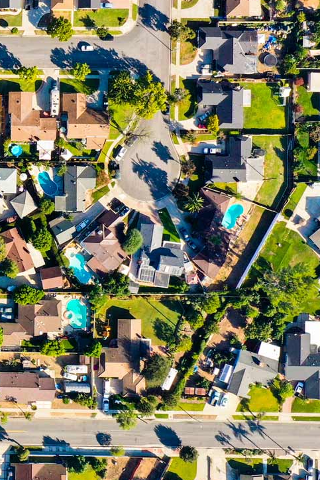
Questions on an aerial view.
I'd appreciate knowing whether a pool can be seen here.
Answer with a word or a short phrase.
Yes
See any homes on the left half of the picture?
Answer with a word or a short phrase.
Yes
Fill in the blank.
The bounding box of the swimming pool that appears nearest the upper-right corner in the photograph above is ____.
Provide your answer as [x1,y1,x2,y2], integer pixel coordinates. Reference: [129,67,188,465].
[222,204,244,230]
